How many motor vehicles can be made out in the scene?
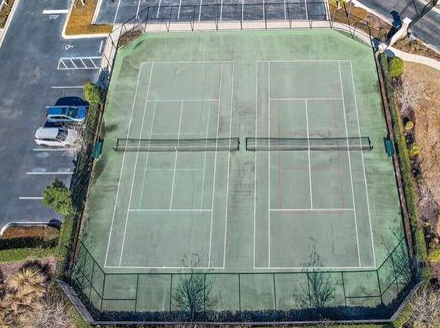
2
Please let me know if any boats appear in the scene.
No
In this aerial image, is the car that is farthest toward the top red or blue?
blue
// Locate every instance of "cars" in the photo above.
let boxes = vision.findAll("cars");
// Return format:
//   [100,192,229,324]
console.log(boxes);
[44,102,84,122]
[31,124,79,146]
